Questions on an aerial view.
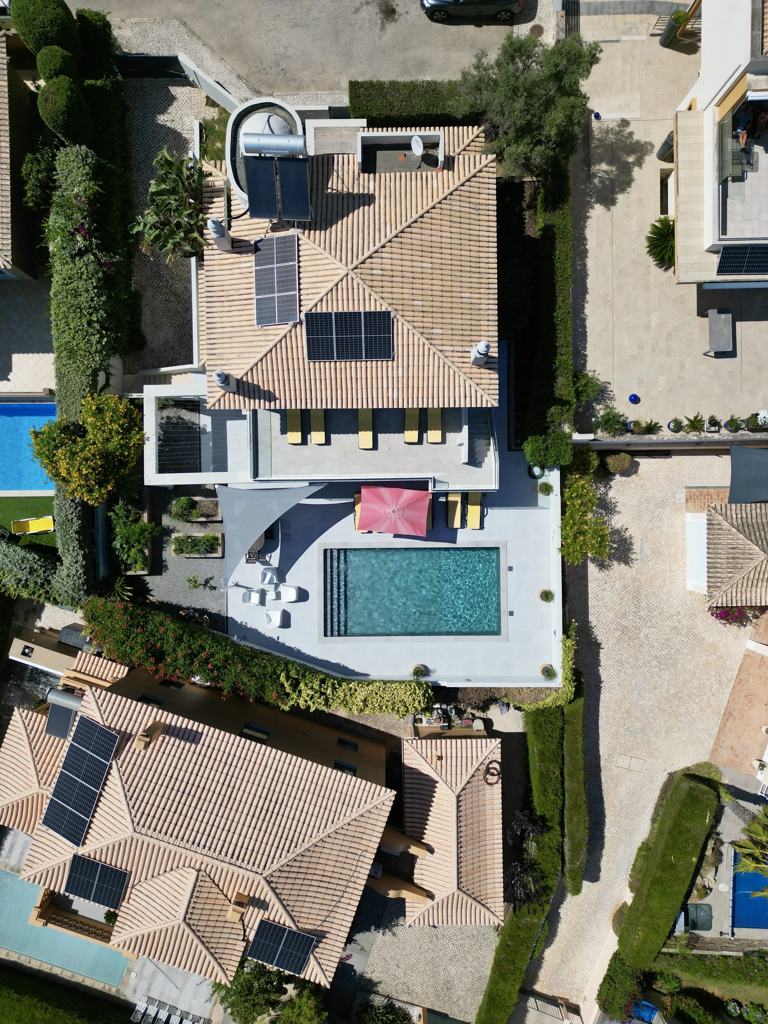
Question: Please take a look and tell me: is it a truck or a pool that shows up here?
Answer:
pool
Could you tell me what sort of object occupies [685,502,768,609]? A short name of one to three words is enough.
shed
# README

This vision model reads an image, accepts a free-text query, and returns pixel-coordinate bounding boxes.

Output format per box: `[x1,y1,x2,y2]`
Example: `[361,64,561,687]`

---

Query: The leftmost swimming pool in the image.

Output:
[0,400,62,498]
